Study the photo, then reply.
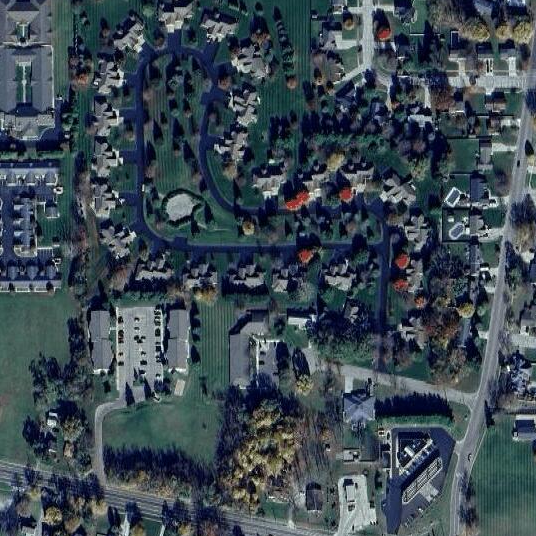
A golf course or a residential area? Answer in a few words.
residential area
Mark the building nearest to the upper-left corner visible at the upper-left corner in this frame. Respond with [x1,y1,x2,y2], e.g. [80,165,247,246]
[0,0,53,43]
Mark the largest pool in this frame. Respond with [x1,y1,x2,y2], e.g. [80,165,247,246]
[447,186,466,209]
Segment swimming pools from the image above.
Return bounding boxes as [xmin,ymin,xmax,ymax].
[449,224,464,238]
[447,186,466,209]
